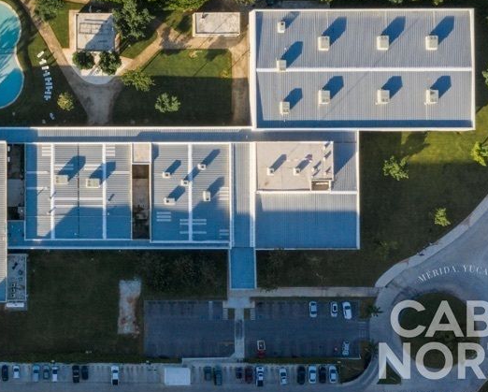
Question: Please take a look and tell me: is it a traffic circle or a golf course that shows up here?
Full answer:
The one in the frame is a traffic circle.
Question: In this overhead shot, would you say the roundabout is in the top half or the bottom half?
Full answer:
It is in the bottom half that the roundabout appears.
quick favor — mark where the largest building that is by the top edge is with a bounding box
[245,8,475,132]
